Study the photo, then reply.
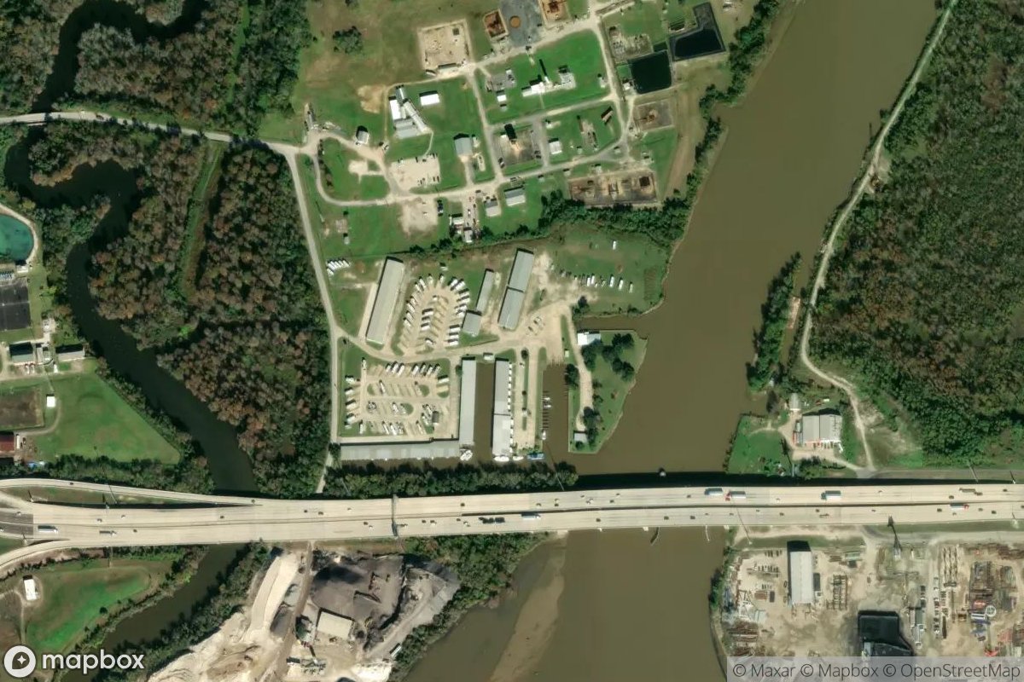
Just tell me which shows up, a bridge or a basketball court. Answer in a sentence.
Looking from above, you can make out a bridge.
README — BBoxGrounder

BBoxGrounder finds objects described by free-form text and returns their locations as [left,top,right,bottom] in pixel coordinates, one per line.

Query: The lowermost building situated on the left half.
[316,611,352,641]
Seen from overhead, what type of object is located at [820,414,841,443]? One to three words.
building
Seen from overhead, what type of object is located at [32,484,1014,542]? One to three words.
bridge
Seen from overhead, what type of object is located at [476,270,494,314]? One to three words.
shed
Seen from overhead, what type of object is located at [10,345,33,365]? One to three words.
house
